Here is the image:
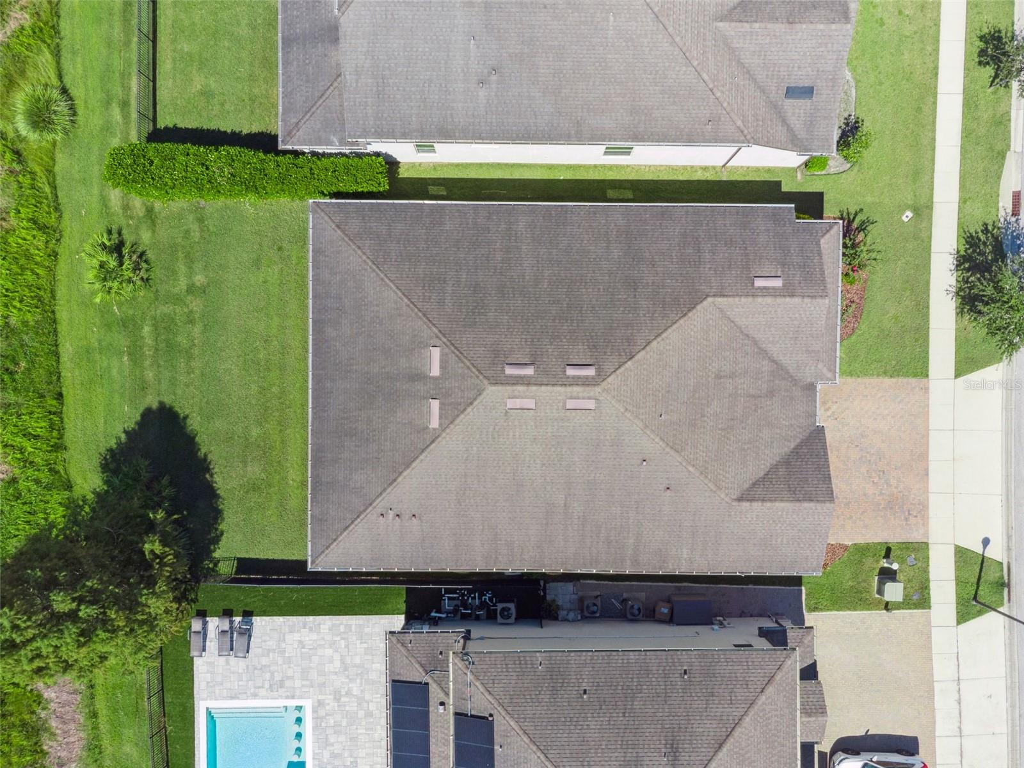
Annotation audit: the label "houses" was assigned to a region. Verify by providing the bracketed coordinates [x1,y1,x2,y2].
[308,201,842,572]
[279,0,856,175]
[387,618,826,768]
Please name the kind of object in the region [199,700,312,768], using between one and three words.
swimming pool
